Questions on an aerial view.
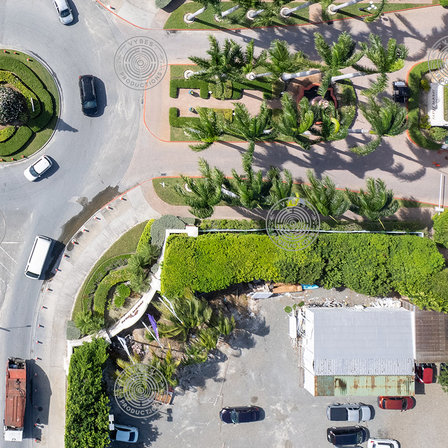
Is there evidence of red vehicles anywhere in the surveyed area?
Yes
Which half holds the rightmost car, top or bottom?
bottom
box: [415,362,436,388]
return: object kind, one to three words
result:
car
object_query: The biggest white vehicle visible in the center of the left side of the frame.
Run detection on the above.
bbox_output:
[23,234,52,280]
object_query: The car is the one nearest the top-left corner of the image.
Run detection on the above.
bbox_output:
[52,0,73,26]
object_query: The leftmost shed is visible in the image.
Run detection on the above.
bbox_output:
[303,305,416,396]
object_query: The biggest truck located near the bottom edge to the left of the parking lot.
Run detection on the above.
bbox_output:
[4,360,27,446]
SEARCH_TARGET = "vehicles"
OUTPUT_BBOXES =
[391,81,409,102]
[220,405,261,426]
[23,234,52,280]
[23,152,53,184]
[325,402,372,424]
[4,360,27,446]
[325,425,368,447]
[376,396,413,413]
[415,362,436,388]
[52,0,73,26]
[367,436,398,448]
[78,74,99,116]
